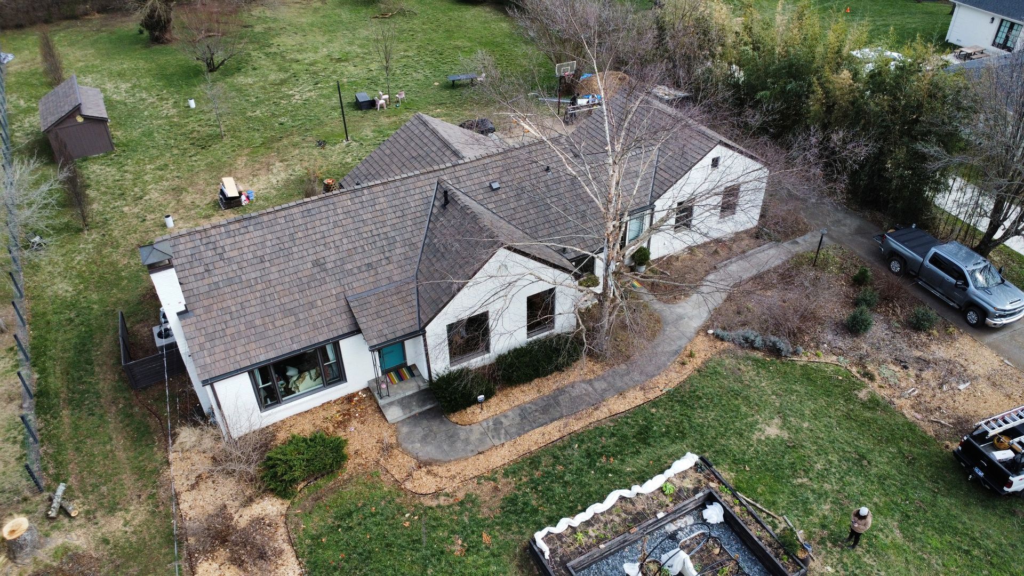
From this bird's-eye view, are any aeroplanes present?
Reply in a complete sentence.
No, the picture doesn't show any aeroplane.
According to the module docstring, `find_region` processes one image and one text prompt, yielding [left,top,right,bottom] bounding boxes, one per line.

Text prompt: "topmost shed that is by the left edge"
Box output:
[37,75,114,162]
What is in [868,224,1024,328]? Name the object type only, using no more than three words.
truck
